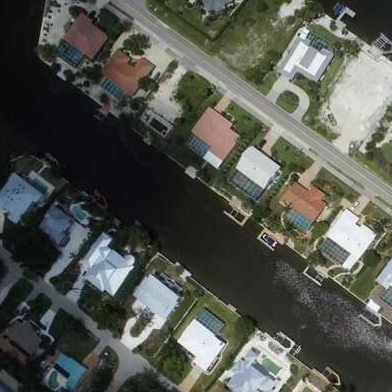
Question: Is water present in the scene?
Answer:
Yes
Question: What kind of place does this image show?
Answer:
residential area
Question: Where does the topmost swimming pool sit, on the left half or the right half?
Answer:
left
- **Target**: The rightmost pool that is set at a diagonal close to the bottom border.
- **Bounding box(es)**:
[262,356,282,376]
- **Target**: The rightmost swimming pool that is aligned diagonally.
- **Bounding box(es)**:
[321,238,349,265]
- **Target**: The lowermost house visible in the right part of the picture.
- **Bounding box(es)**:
[224,349,276,392]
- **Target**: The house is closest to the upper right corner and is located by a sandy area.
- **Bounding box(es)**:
[278,28,335,82]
